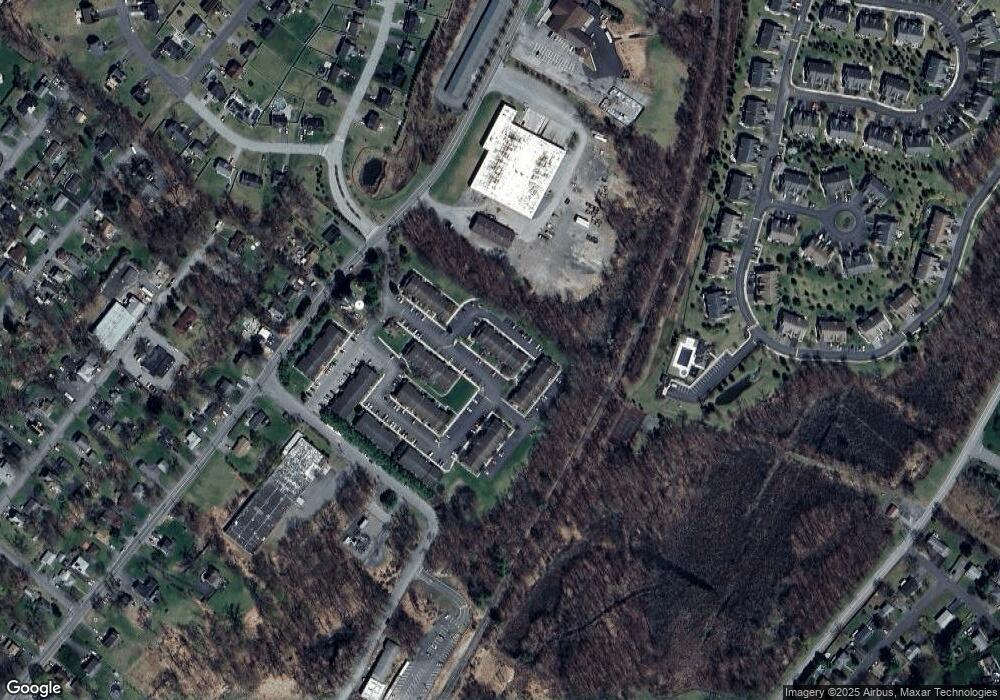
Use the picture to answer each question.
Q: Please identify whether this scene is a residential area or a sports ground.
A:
residential area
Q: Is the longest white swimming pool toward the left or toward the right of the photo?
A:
right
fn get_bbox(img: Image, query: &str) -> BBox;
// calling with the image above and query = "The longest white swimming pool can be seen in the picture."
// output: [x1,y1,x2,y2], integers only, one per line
[673,337,696,377]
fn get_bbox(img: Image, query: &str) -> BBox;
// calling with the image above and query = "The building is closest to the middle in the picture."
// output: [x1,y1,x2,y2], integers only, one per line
[471,321,530,375]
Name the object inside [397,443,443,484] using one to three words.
building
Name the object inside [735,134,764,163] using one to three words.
house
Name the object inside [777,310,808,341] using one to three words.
house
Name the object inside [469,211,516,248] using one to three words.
building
